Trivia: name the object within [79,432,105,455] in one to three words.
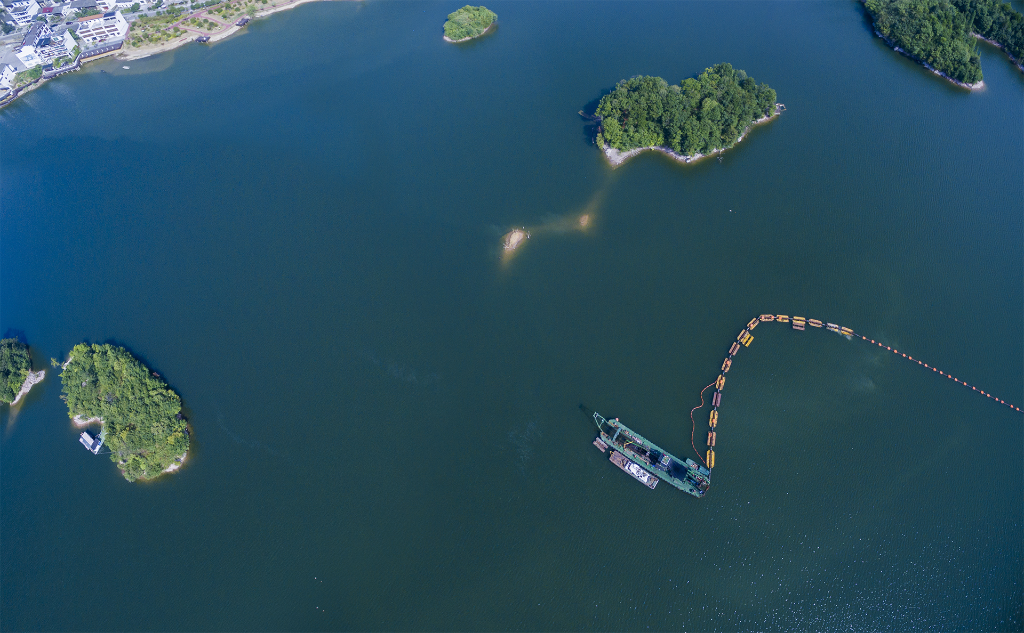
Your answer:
boat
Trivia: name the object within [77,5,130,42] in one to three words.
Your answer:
building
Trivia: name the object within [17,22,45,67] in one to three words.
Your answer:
house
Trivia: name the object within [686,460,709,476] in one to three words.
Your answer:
boat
